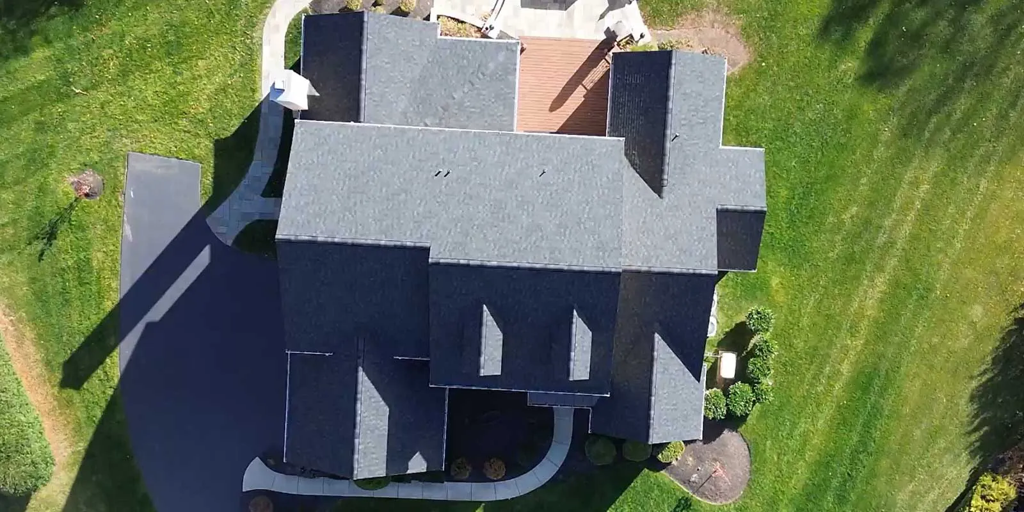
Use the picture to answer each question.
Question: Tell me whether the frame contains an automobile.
No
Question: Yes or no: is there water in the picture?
No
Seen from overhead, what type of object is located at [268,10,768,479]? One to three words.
house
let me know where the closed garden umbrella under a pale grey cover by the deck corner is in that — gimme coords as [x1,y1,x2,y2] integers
[609,22,625,41]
